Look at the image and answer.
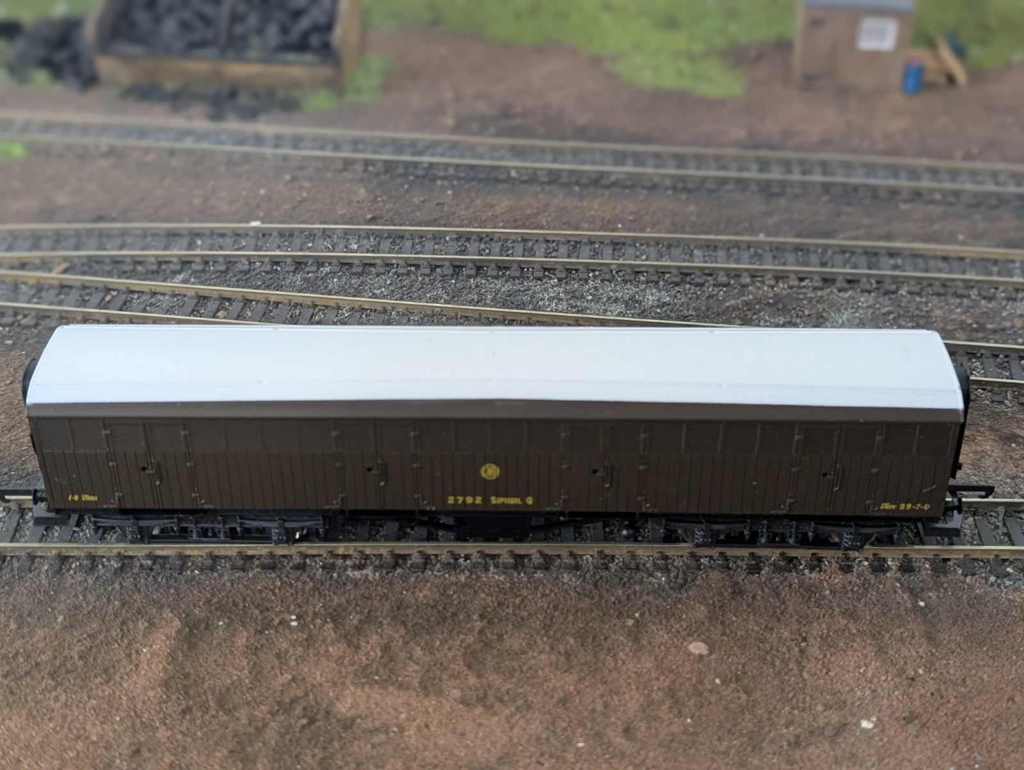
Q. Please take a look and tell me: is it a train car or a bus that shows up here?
train car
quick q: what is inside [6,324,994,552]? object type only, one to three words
rail car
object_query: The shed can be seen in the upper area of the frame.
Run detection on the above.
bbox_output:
[792,0,921,91]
